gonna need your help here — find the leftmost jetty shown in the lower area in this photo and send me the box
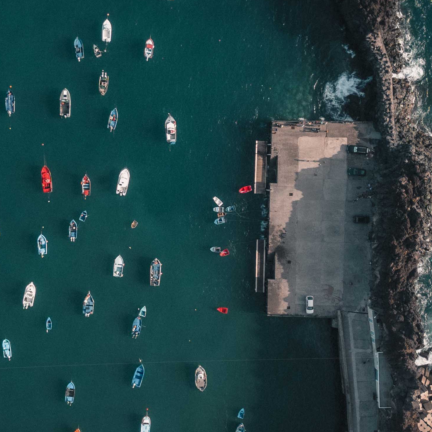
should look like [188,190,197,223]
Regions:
[255,240,270,292]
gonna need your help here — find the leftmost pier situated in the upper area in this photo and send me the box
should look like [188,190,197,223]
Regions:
[254,141,269,194]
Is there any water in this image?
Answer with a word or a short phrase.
Yes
